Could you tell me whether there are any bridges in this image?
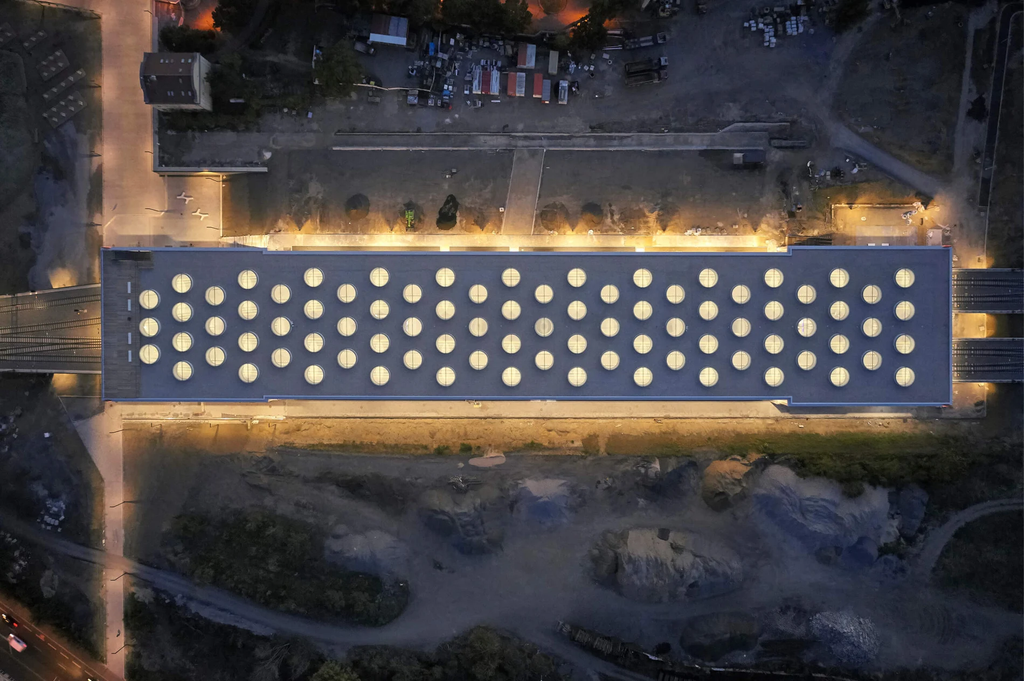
Yes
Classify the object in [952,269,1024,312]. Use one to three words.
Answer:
bridge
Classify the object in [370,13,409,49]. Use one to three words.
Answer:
shed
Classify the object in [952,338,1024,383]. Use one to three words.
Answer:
bridge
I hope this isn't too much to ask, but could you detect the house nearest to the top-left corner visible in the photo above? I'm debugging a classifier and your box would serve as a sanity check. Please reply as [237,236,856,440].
[133,51,211,110]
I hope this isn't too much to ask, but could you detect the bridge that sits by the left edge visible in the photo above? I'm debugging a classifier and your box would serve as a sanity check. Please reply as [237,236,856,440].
[0,283,102,374]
